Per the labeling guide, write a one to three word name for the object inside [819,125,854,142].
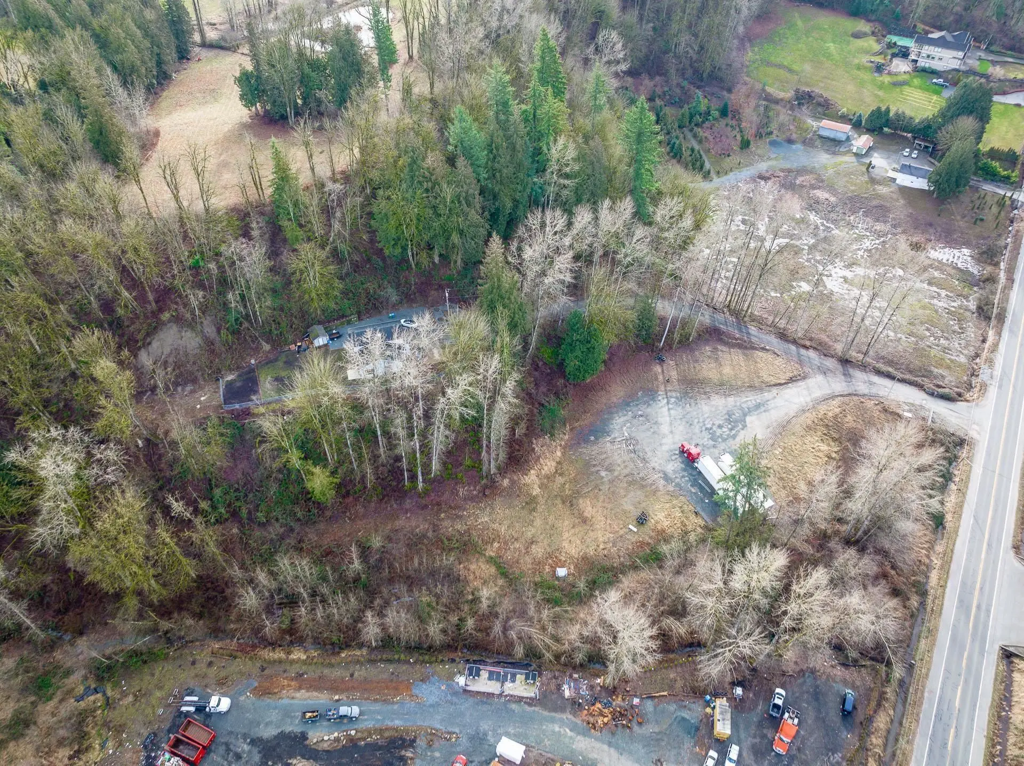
barn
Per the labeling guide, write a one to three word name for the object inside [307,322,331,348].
shed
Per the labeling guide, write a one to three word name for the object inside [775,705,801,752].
truck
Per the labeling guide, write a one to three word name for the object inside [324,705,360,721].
vehicle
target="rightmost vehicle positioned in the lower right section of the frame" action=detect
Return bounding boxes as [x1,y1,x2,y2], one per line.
[840,689,856,715]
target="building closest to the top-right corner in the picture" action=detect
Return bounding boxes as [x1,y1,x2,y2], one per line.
[910,28,973,72]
